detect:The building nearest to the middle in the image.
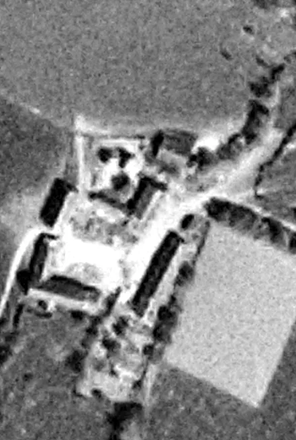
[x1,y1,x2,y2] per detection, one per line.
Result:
[132,183,165,224]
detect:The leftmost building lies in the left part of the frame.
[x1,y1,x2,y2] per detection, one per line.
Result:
[35,236,57,281]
